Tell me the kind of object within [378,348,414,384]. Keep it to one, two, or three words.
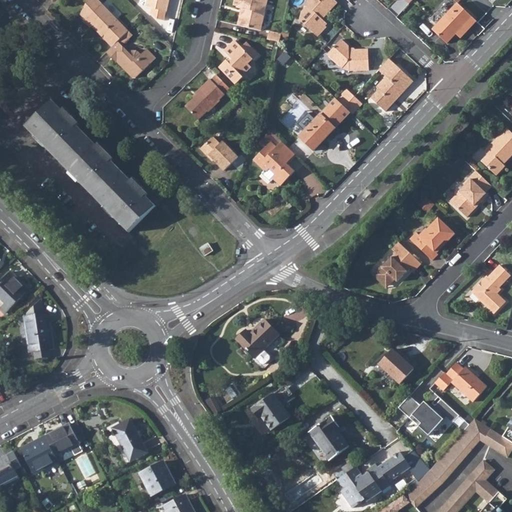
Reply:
house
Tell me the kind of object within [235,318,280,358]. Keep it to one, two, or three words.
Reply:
house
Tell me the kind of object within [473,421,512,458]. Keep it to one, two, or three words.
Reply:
building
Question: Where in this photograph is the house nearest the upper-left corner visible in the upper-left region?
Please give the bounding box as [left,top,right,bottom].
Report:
[80,0,127,46]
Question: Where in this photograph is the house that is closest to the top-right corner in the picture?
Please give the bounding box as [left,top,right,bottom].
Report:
[432,2,476,45]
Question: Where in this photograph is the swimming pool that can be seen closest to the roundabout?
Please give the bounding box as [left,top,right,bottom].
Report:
[76,453,96,478]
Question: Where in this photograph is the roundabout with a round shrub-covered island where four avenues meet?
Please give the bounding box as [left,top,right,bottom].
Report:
[89,306,170,388]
